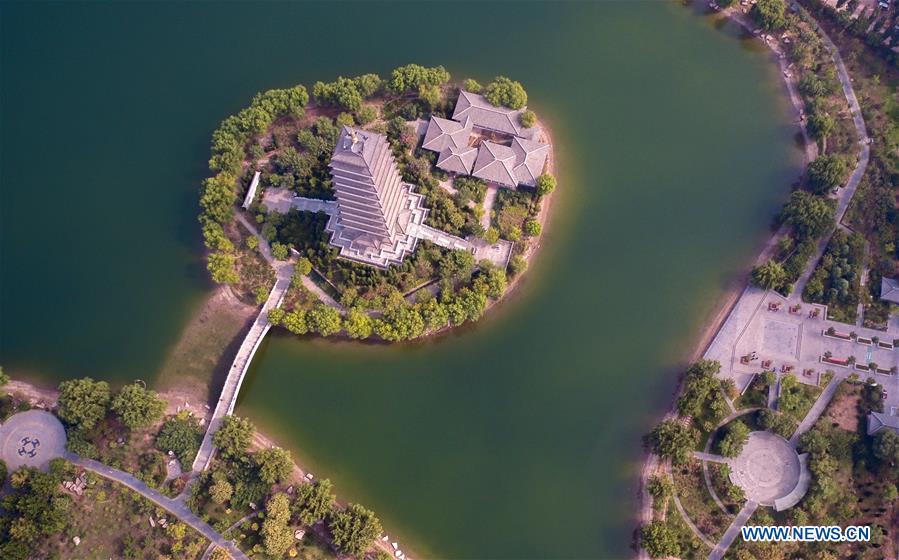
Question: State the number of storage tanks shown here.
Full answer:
There are no storage tanks in this view.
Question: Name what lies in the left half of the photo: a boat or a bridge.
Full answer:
Looking in the left half of the photo, you will find a bridge.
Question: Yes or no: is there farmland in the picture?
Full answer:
No, the picture contains no farmland.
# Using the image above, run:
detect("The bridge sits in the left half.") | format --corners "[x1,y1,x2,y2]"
[187,267,292,484]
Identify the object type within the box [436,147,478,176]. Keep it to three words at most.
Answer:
building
